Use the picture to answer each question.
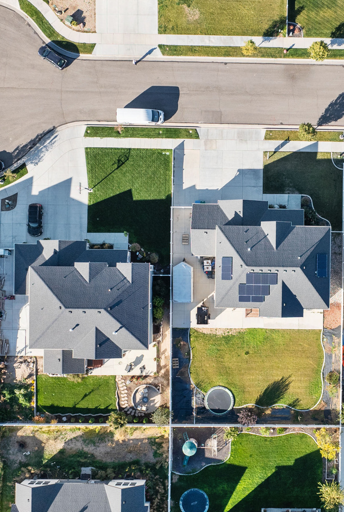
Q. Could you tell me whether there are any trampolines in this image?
Yes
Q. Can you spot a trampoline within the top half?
No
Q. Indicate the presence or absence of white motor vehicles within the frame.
Yes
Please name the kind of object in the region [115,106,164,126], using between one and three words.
vehicle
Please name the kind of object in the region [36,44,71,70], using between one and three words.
car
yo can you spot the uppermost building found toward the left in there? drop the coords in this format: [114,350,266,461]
[10,239,155,376]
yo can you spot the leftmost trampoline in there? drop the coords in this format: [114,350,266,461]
[179,487,209,512]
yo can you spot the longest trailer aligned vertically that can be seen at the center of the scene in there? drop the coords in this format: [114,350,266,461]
[174,253,194,302]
